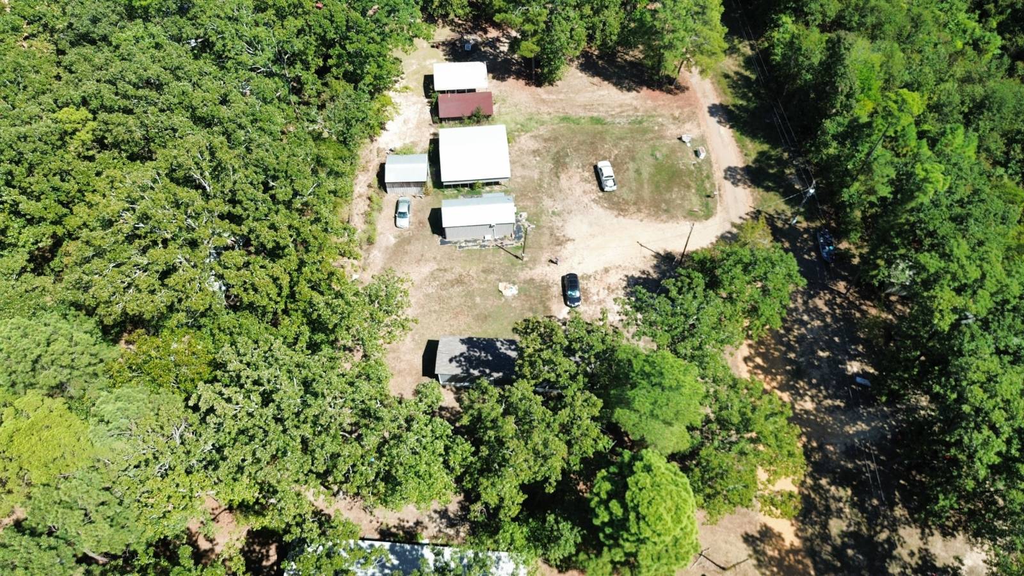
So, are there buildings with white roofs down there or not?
Yes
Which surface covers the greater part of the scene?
trees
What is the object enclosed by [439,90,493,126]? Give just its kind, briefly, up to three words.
shed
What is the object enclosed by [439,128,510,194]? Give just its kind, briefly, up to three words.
barn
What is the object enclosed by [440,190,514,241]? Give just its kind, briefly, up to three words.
building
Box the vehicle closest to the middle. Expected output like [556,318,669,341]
[562,273,583,309]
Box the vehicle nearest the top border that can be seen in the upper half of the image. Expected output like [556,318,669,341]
[595,160,620,195]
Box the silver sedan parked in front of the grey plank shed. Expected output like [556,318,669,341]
[393,198,412,230]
